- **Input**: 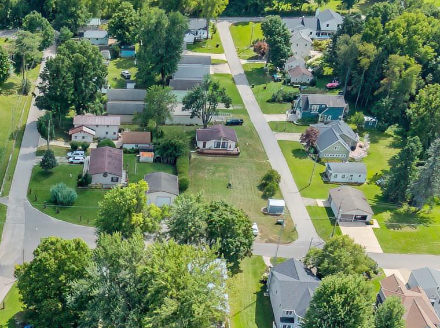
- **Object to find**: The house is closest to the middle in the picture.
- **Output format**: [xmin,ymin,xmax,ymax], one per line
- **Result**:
[195,126,241,158]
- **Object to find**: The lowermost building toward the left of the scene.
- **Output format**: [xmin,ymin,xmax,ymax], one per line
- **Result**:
[144,170,180,205]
